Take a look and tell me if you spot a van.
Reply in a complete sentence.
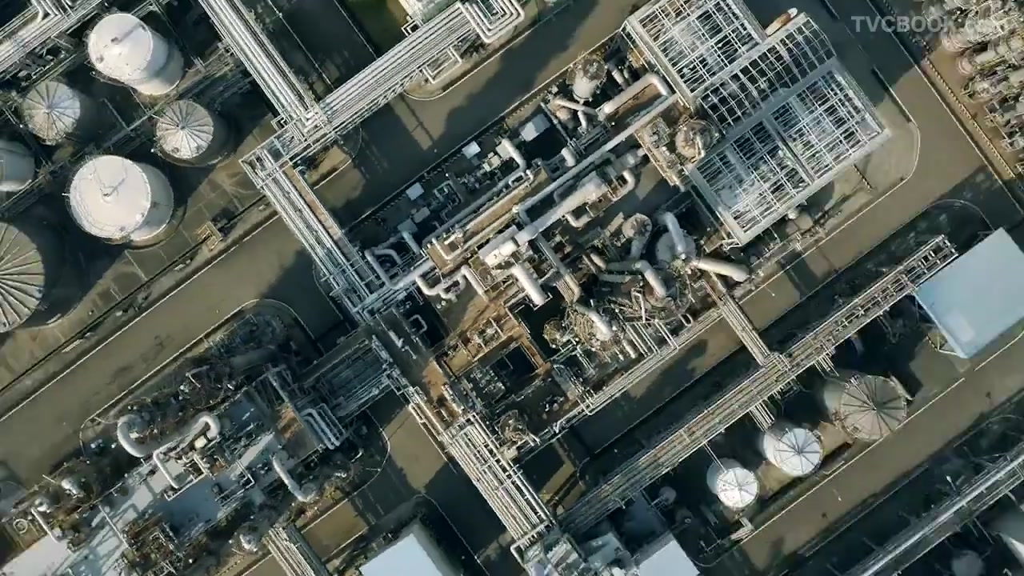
No, the scene contains no van.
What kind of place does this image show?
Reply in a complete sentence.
What you see here is an industrial area.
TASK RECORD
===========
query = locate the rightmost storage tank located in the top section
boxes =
[153,100,237,172]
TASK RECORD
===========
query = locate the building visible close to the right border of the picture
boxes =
[906,229,1024,356]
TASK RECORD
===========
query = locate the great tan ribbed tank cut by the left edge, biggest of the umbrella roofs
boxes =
[0,221,70,335]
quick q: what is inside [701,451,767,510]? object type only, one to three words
storage tank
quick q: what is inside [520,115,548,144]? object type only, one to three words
shed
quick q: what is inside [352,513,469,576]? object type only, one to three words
building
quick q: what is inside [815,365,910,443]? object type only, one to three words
storage tank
